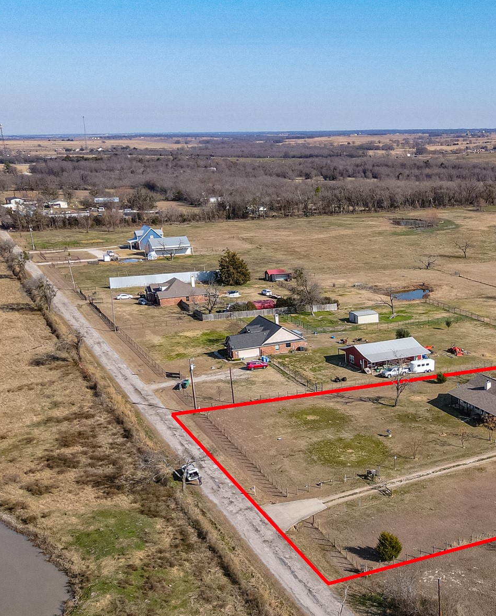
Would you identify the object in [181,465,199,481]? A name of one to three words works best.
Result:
car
